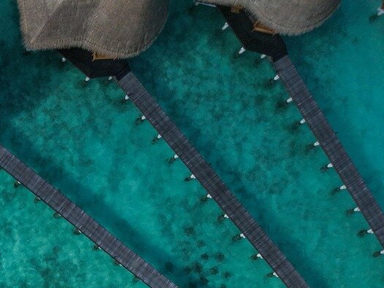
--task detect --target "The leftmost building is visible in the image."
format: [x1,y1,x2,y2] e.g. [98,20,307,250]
[12,0,168,90]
